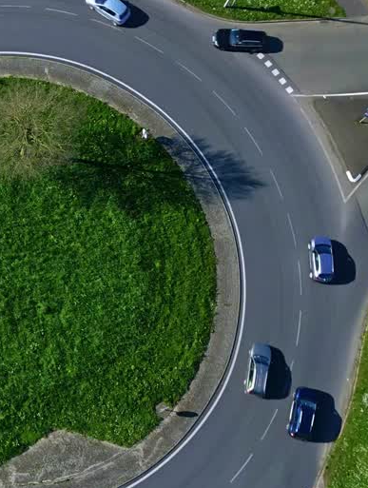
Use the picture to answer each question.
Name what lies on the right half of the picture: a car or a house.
car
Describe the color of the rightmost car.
blue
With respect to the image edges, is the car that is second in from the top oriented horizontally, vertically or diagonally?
horizontally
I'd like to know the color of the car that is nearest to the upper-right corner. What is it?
black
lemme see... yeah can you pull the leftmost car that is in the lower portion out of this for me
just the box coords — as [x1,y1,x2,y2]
[244,342,275,396]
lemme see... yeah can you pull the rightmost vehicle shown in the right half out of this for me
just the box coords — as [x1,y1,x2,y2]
[308,234,337,282]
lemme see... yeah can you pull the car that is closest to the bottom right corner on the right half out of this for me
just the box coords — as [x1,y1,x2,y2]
[286,386,319,440]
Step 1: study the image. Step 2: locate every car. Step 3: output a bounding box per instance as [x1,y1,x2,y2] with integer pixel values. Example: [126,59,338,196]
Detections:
[212,25,266,51]
[244,342,275,396]
[308,234,337,282]
[286,386,319,440]
[85,0,131,26]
